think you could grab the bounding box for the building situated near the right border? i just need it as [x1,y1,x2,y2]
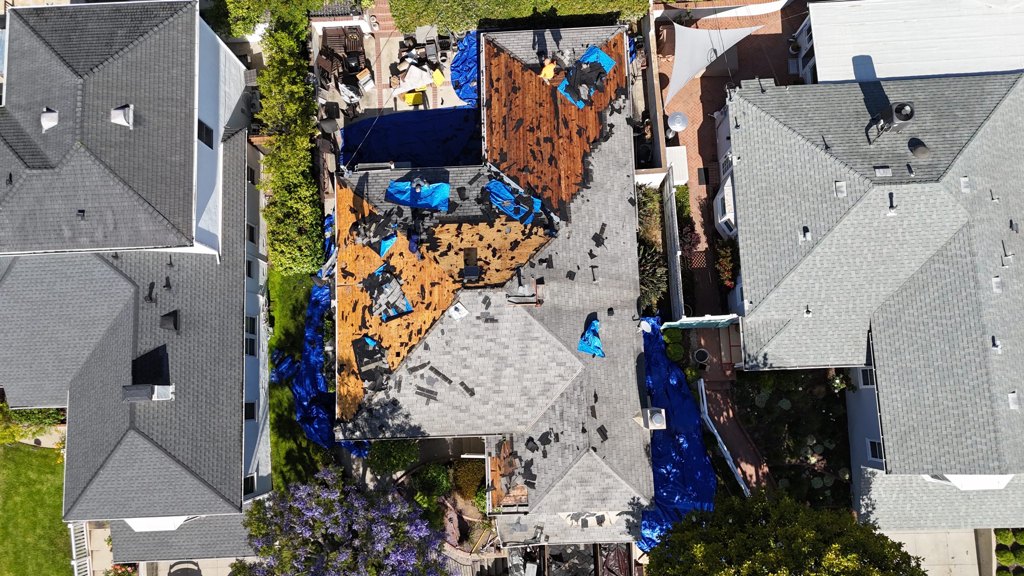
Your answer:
[707,0,1024,529]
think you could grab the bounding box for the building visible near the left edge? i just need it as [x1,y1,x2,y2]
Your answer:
[0,0,268,564]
